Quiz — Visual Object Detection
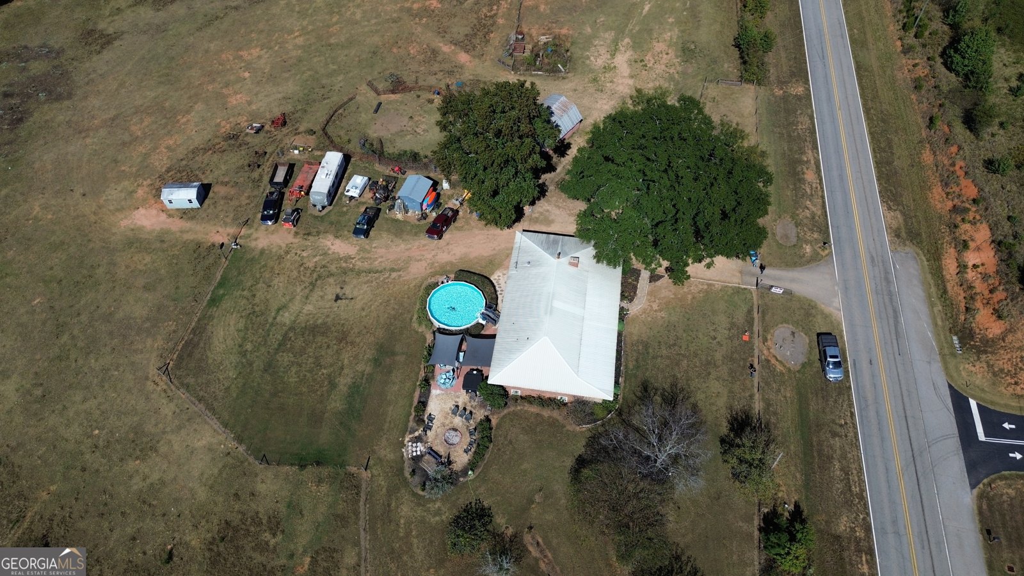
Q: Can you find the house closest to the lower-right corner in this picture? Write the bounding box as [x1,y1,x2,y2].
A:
[489,214,624,406]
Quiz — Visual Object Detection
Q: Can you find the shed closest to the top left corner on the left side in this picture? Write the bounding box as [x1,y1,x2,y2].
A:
[160,181,204,209]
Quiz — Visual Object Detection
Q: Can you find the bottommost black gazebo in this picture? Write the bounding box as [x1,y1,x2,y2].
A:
[461,368,483,394]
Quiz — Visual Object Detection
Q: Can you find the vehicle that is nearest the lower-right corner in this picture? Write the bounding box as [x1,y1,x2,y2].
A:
[817,336,848,381]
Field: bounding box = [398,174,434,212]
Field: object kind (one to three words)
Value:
shed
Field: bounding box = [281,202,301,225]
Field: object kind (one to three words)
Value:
vehicle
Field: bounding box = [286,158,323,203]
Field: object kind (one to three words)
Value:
trailer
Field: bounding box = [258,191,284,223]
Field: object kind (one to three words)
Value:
truck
